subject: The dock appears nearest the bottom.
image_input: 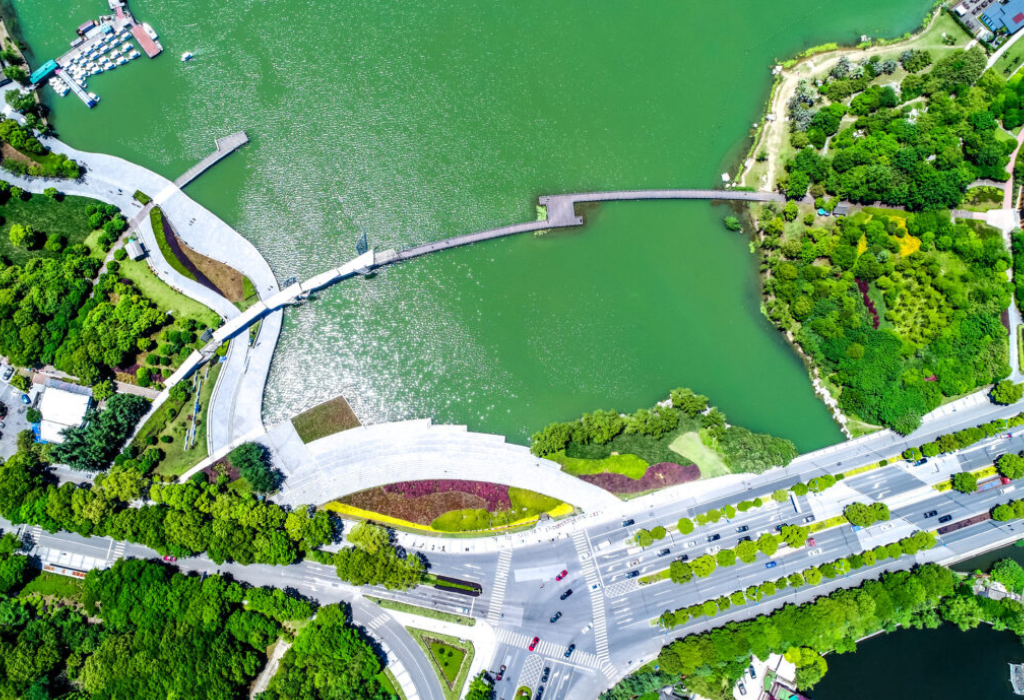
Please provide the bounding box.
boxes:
[176,129,249,187]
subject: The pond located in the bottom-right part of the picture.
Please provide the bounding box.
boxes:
[808,606,1024,700]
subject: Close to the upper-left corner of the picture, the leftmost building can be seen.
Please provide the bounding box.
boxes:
[30,60,61,86]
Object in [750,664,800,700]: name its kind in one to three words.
house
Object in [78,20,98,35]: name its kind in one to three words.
boat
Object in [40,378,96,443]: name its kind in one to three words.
building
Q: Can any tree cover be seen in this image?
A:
Yes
